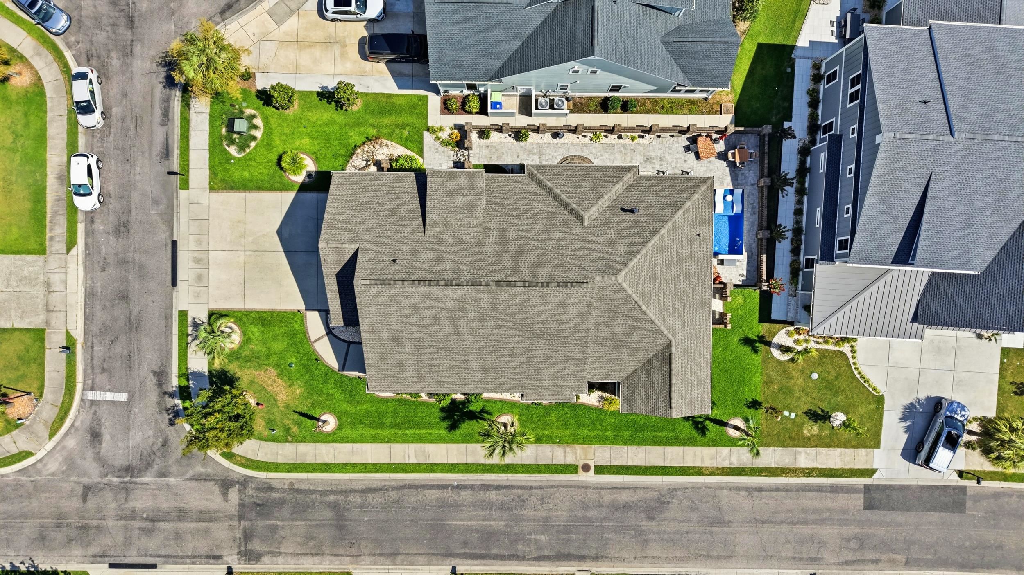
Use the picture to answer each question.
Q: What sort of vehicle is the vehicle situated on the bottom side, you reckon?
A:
car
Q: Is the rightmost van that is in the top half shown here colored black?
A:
Yes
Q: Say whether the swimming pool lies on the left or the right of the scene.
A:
right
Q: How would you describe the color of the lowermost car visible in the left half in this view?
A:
white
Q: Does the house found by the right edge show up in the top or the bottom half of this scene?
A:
top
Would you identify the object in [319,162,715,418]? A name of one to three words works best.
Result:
house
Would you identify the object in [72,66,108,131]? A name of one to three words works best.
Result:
car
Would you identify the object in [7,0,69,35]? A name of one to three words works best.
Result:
car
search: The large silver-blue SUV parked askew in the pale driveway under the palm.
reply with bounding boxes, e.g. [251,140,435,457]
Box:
[916,400,968,471]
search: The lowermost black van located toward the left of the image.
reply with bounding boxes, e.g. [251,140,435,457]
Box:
[365,30,429,65]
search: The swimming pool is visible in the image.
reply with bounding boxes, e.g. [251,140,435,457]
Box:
[712,184,747,259]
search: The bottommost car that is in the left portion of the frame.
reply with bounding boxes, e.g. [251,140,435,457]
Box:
[72,152,107,210]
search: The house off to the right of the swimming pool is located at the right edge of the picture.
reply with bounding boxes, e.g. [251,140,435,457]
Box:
[793,0,1024,343]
